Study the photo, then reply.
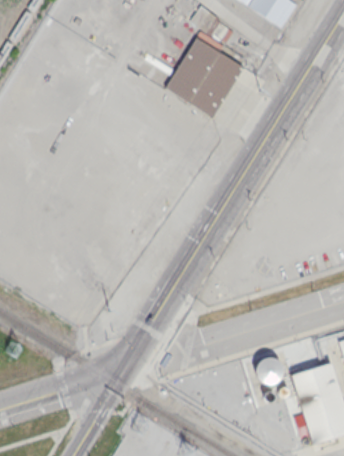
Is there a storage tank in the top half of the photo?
No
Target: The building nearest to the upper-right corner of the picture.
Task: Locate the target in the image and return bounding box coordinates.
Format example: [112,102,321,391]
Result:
[248,0,297,28]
